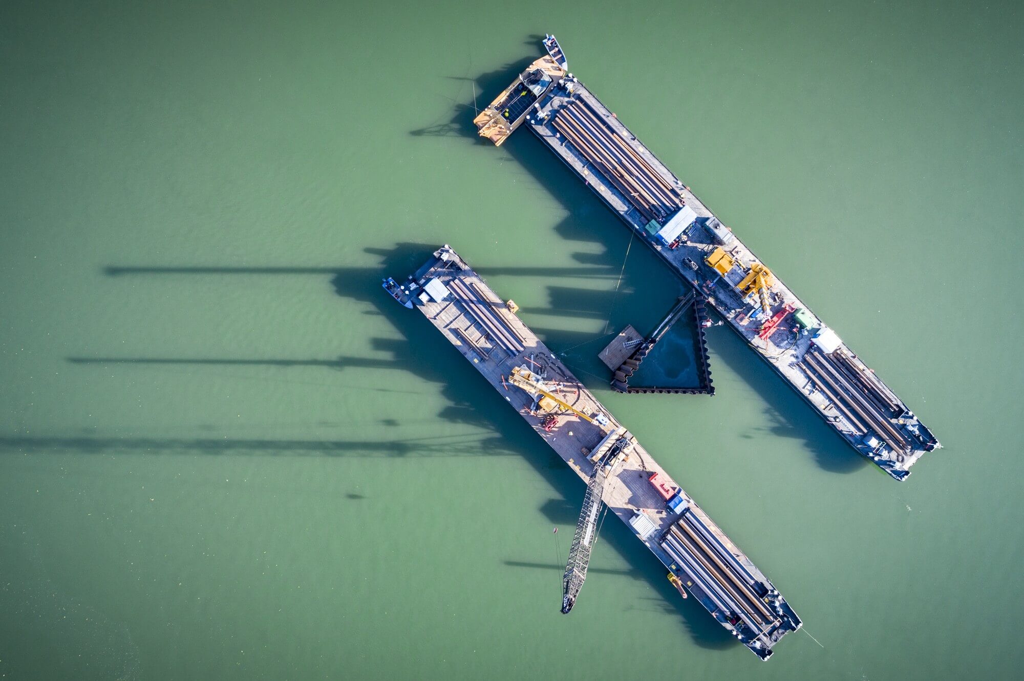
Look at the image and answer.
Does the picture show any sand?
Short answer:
No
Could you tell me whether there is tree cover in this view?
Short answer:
No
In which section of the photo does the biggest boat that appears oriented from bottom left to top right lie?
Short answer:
top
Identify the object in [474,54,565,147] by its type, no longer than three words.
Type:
boat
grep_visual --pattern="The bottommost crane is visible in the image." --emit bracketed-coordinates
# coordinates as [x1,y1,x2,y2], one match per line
[556,429,636,621]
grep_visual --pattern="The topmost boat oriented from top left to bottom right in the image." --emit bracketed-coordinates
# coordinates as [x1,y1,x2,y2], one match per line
[543,33,568,72]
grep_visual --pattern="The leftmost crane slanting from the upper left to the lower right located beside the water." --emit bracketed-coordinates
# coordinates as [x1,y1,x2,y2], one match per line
[498,352,596,426]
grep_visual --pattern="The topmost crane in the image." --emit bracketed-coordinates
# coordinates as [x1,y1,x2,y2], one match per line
[706,241,782,320]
